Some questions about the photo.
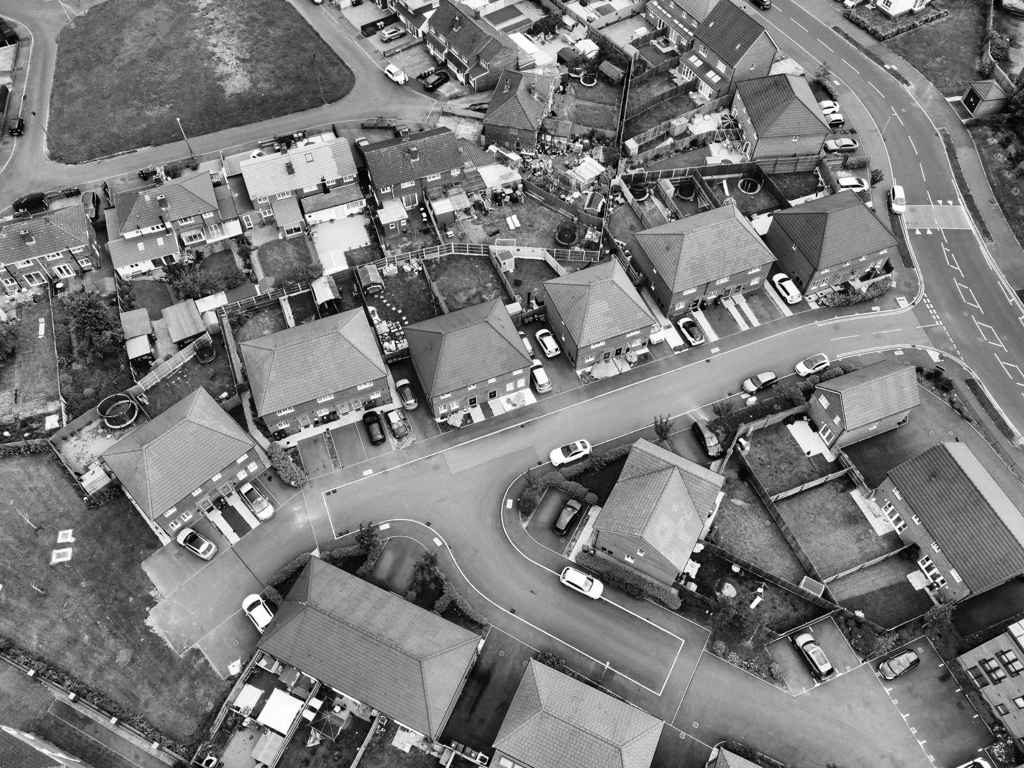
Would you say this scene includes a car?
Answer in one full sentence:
Yes, the picture does show a car.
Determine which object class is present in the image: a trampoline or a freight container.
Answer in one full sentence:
I can see a trampoline in this picture.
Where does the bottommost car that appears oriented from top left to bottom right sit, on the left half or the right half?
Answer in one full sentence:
You can find the bottommost car that appears oriented from top left to bottom right on the right side of the picture.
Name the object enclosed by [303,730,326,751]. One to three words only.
tent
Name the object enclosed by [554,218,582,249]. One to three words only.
trampoline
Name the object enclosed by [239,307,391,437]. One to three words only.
house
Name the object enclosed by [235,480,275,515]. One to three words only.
car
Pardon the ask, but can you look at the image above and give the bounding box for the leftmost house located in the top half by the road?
[0,202,104,296]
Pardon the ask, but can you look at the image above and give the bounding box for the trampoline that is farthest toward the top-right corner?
[737,178,763,196]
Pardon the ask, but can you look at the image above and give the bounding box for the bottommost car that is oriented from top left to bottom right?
[794,632,838,681]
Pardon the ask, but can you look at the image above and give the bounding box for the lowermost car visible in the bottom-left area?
[235,592,270,636]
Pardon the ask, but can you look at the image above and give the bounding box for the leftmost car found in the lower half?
[174,526,219,561]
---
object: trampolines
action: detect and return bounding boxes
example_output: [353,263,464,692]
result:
[190,339,220,368]
[554,218,582,249]
[579,65,600,89]
[675,185,697,201]
[628,180,651,204]
[632,55,649,75]
[737,178,763,196]
[95,392,141,433]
